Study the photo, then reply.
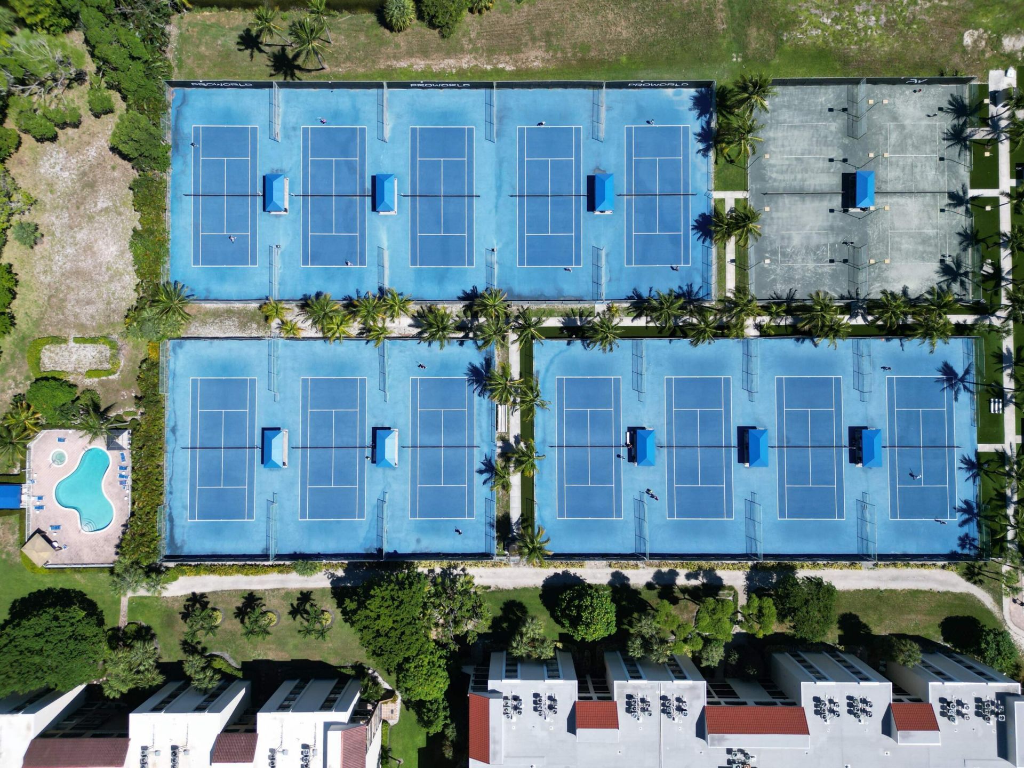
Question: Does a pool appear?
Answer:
Yes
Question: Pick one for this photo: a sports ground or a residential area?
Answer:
sports ground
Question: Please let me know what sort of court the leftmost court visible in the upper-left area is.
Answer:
tennis court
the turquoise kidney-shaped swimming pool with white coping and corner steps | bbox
[53,445,116,534]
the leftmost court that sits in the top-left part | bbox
[170,89,280,301]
